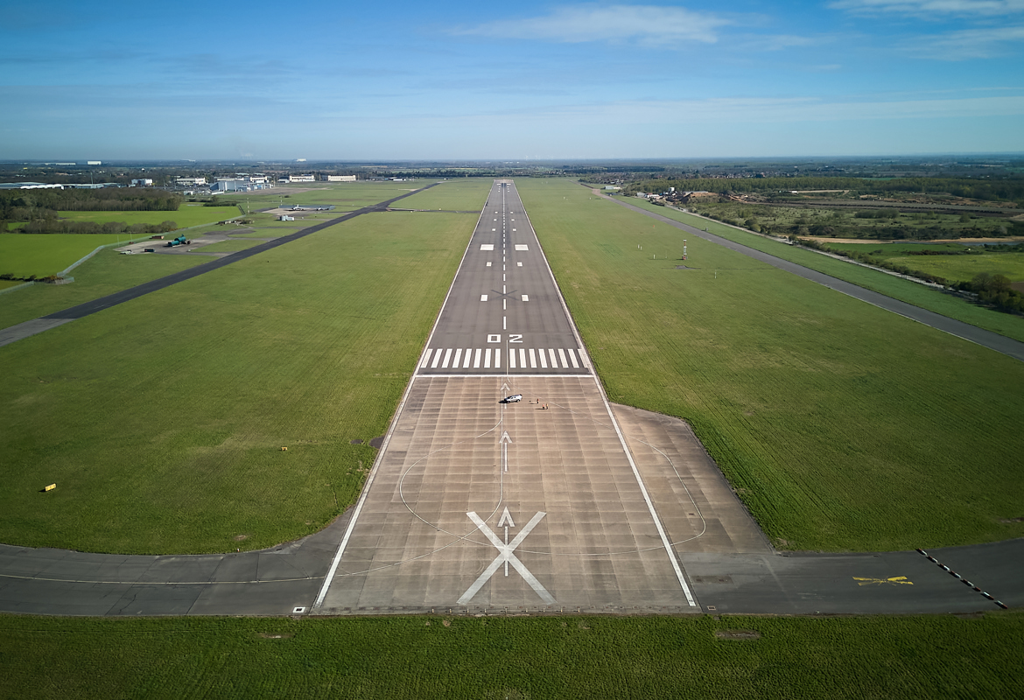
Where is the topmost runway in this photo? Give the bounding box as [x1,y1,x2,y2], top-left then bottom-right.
[410,181,602,376]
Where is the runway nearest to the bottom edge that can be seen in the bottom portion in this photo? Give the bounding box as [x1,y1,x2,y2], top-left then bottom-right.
[306,376,709,615]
